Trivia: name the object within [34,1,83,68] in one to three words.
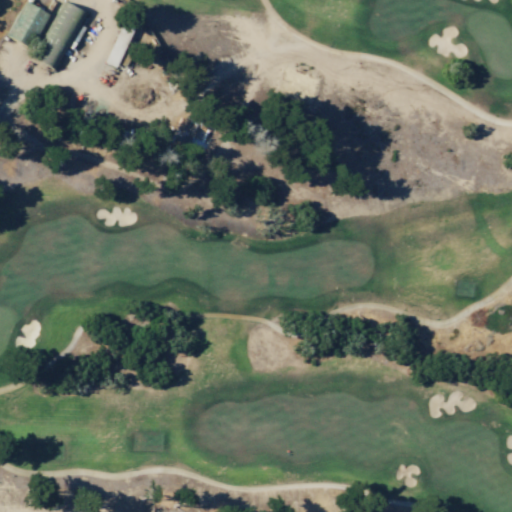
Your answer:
barn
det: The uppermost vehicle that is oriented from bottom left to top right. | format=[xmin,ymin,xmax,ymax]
[71,26,87,48]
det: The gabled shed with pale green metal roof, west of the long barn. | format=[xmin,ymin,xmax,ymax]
[10,2,49,45]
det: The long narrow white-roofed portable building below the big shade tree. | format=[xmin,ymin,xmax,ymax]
[106,27,134,68]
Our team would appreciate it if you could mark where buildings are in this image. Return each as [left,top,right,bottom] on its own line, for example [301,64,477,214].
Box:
[106,27,134,68]
[10,2,49,45]
[34,1,83,68]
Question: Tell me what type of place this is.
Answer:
golf course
